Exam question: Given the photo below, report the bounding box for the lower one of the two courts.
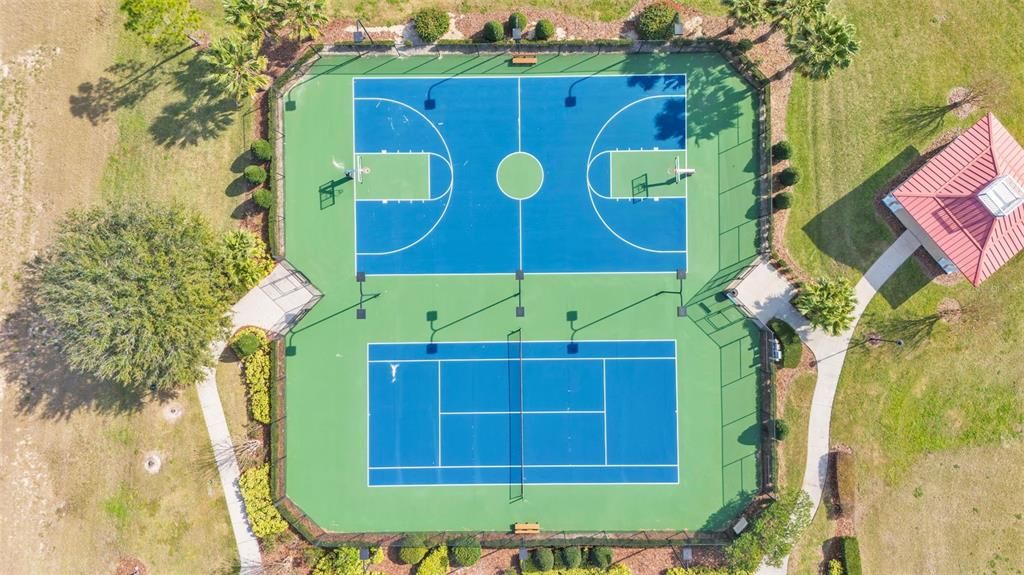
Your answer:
[367,340,680,487]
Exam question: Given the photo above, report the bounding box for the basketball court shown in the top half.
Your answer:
[353,73,688,276]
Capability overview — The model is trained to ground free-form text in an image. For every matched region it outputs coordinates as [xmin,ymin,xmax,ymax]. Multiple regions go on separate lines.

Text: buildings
[880,109,1024,288]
